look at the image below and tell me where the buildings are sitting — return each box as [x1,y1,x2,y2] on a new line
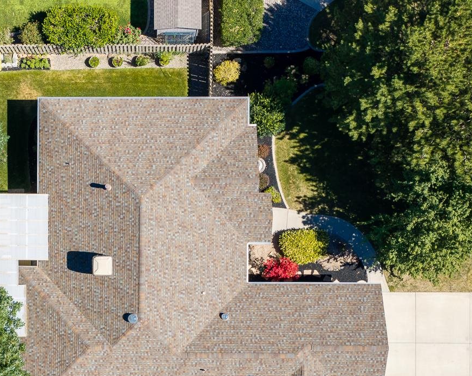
[22,96,390,376]
[153,0,201,39]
